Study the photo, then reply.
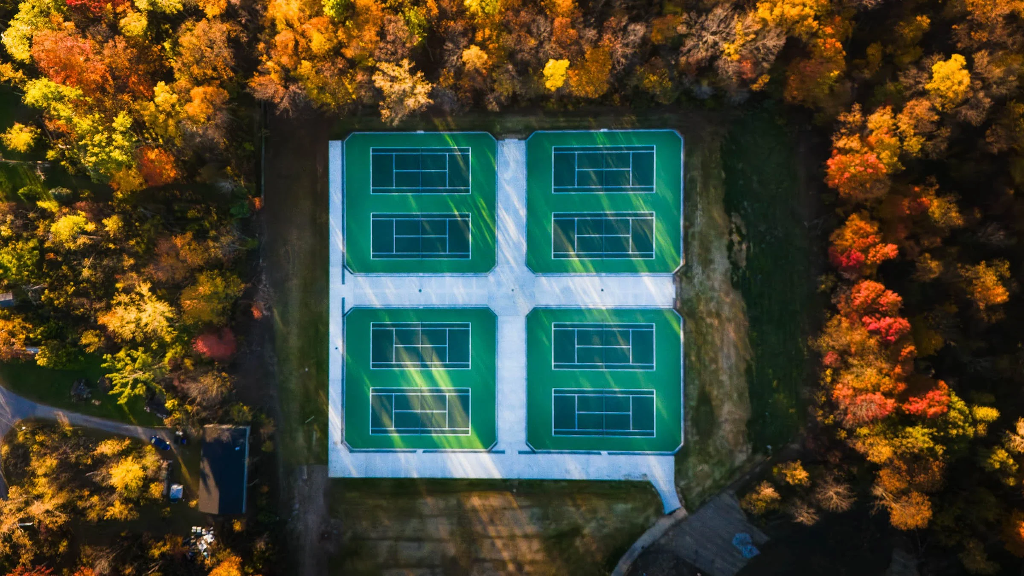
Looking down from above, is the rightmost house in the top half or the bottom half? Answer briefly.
bottom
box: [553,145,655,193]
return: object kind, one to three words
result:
tennis court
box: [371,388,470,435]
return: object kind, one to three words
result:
tennis court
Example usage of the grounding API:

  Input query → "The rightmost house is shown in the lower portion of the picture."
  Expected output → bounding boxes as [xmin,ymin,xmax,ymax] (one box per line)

[199,428,248,519]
